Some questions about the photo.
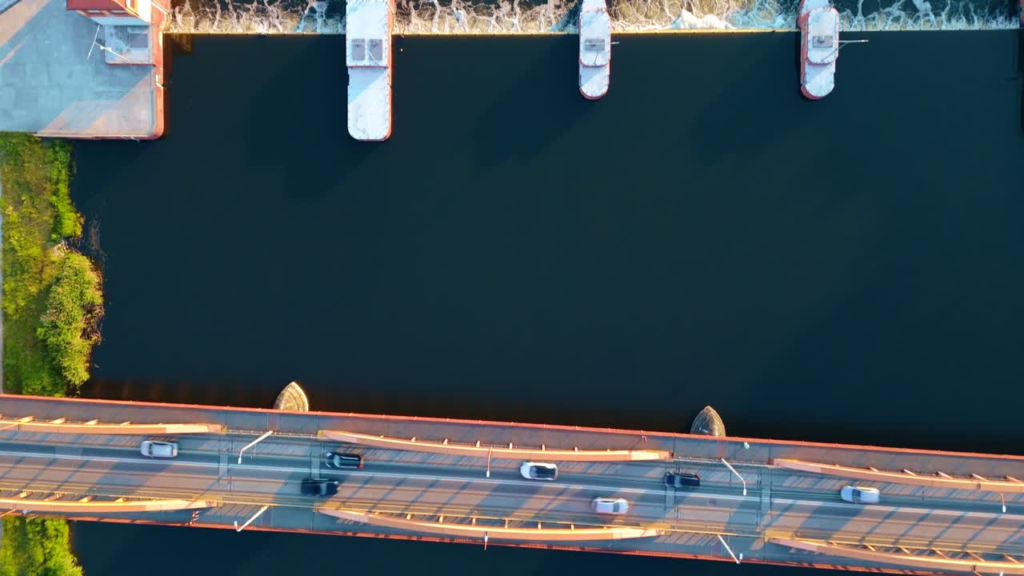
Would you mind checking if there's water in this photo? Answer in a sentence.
Yes, there is water in the image.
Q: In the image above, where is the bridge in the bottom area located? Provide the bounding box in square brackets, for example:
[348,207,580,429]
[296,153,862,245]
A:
[0,379,1024,576]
